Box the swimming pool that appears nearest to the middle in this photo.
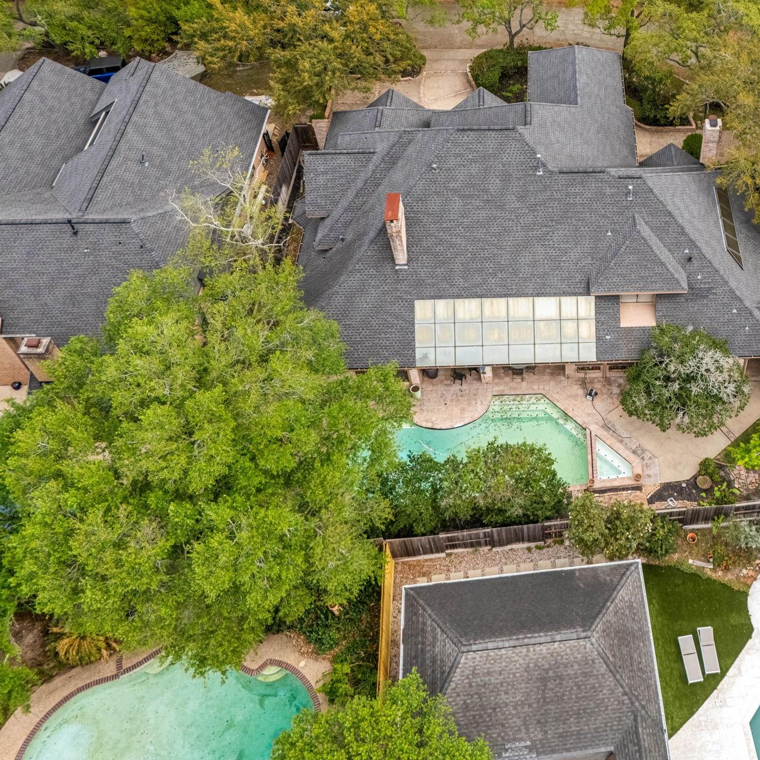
[354,394,588,505]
